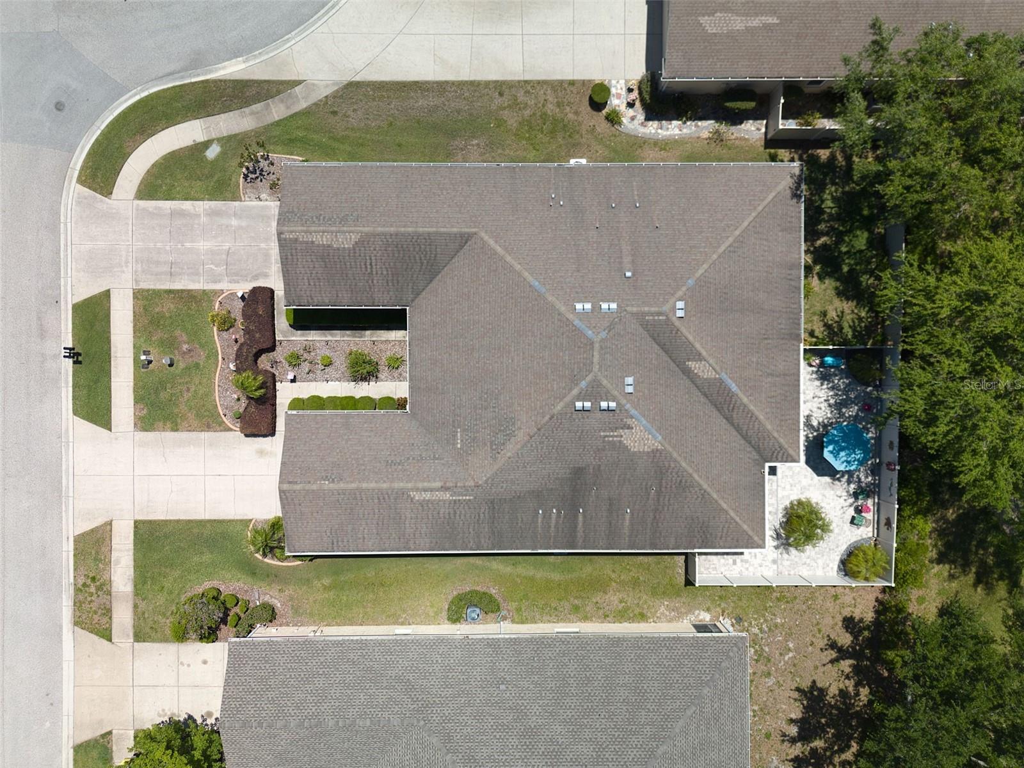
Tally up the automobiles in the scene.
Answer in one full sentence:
There are no automobiles in the image.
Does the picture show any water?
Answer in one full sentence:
No, no water is visible.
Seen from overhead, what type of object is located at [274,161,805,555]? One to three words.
house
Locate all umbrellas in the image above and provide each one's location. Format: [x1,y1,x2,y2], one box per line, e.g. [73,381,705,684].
[822,423,871,471]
